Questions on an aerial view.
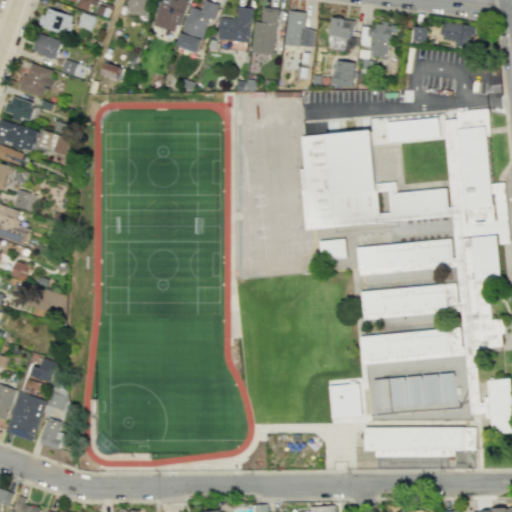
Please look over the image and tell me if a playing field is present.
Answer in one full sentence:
Yes, there is a playing field in the image.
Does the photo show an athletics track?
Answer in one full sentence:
Yes, there's an athletics track here.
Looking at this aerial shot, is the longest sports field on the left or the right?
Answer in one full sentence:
The longest sports field is on the left side of the image.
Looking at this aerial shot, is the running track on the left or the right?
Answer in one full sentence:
The running track appears in the left half of the scene.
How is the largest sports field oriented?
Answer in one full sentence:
What the image shows is the largest sports field lying up and down.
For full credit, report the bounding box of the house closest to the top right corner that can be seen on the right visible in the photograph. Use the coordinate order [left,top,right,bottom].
[443,23,477,46]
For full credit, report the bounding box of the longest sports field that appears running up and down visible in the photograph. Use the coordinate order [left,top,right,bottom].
[90,109,247,460]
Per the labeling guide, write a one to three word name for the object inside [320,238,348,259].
building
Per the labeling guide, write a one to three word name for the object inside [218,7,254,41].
house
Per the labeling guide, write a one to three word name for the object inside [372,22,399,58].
house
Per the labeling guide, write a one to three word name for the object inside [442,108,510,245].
building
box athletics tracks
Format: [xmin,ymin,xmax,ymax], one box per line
[85,102,254,466]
